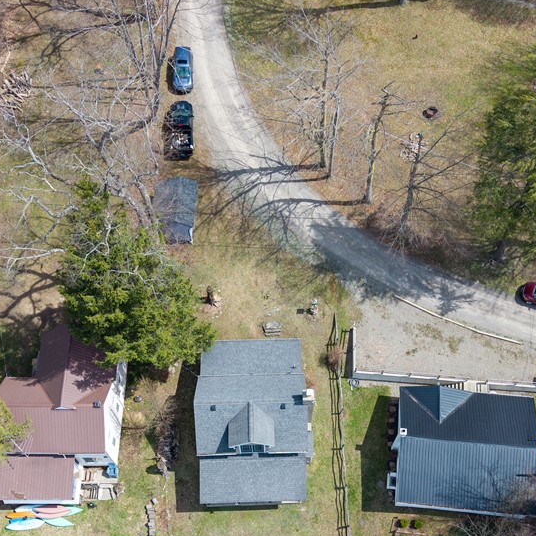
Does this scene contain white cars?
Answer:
No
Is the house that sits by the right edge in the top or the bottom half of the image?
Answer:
bottom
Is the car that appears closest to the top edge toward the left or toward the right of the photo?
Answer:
left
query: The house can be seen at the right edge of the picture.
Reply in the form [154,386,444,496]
[385,384,536,519]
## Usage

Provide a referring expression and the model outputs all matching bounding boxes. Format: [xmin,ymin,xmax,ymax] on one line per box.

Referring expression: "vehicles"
[519,279,536,304]
[167,44,192,86]
[165,102,192,157]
